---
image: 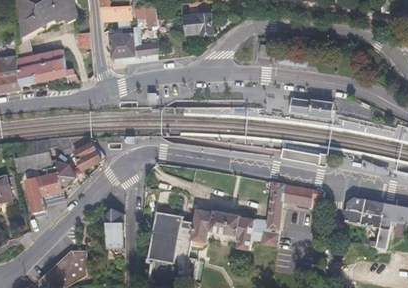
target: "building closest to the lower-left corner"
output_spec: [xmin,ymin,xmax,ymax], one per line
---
[58,250,90,288]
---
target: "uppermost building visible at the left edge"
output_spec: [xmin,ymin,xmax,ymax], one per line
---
[18,0,79,38]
